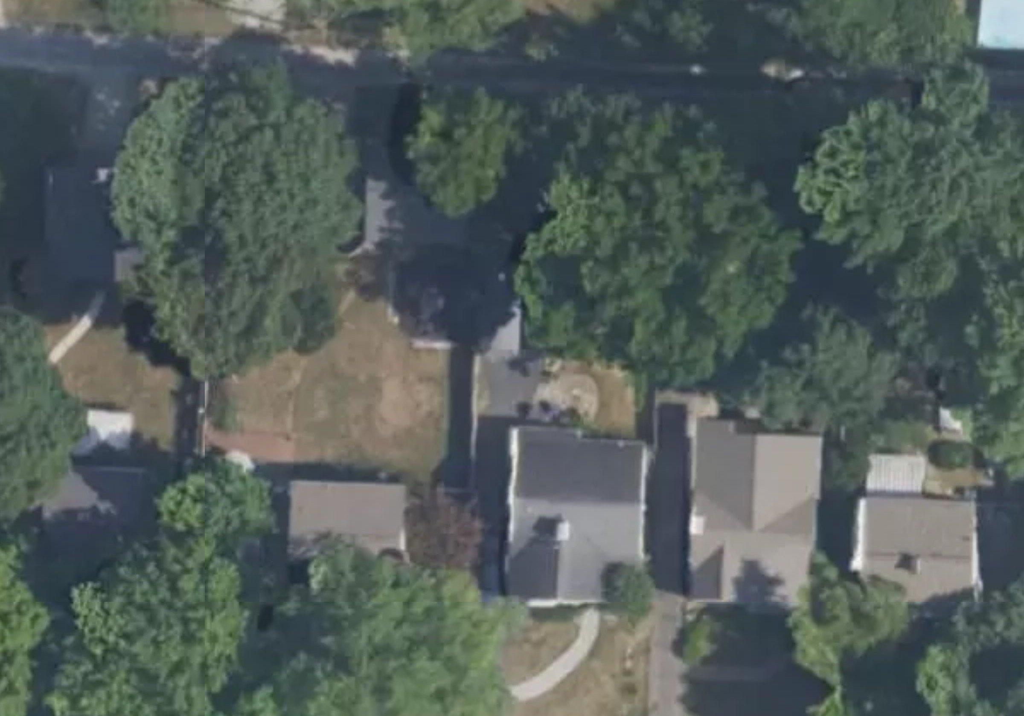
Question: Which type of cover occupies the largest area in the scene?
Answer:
trees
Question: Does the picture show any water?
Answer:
No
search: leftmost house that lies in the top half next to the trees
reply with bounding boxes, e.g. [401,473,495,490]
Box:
[44,164,142,282]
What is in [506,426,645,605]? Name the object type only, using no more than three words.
house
